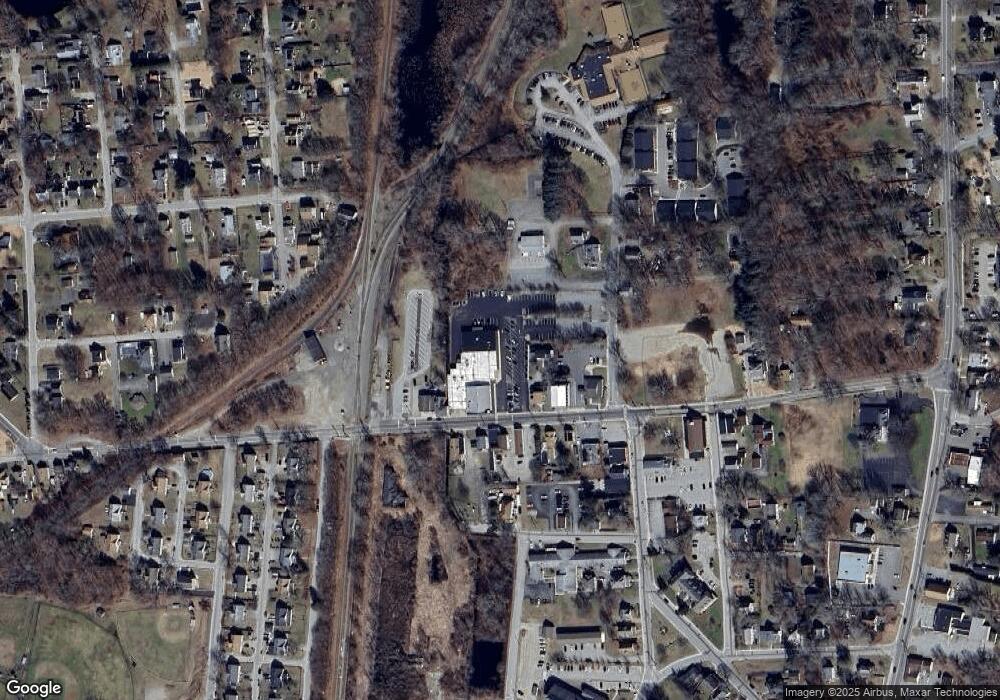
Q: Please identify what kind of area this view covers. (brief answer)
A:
residential area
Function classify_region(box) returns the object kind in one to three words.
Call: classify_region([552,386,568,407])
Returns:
building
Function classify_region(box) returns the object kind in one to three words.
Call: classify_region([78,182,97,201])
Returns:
house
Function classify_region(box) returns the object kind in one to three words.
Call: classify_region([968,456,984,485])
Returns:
shed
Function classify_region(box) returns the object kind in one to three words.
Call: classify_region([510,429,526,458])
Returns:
house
